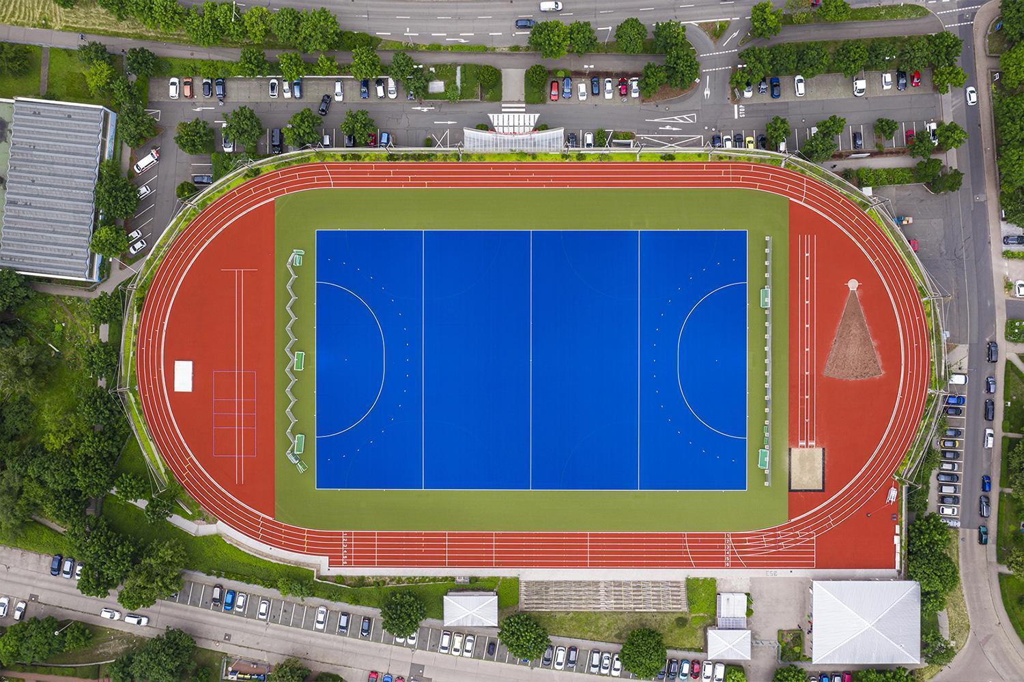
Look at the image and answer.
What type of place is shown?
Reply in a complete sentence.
The picture captures a sports ground.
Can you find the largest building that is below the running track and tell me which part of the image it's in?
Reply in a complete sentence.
Look in the bottom right portion of the view to spot the largest building that is below the running track.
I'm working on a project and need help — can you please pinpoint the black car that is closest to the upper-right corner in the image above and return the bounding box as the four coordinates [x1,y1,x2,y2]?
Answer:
[896,69,908,92]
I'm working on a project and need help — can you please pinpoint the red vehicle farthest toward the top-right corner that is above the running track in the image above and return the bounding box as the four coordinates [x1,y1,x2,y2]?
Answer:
[910,69,922,90]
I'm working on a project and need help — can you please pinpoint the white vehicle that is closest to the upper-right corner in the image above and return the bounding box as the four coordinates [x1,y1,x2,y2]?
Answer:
[965,86,978,106]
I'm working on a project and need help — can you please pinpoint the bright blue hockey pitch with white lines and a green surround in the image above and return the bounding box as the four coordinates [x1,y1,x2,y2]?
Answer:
[275,188,789,531]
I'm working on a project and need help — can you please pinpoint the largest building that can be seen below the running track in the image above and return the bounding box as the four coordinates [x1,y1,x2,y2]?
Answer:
[809,578,921,665]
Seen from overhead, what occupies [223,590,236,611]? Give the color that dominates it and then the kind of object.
blue vehicle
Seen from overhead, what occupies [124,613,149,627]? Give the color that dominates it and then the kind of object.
white car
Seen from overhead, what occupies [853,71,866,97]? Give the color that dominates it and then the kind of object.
white vehicle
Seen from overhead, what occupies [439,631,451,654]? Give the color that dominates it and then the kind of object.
white vehicle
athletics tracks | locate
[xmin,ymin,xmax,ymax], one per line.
[137,162,927,569]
